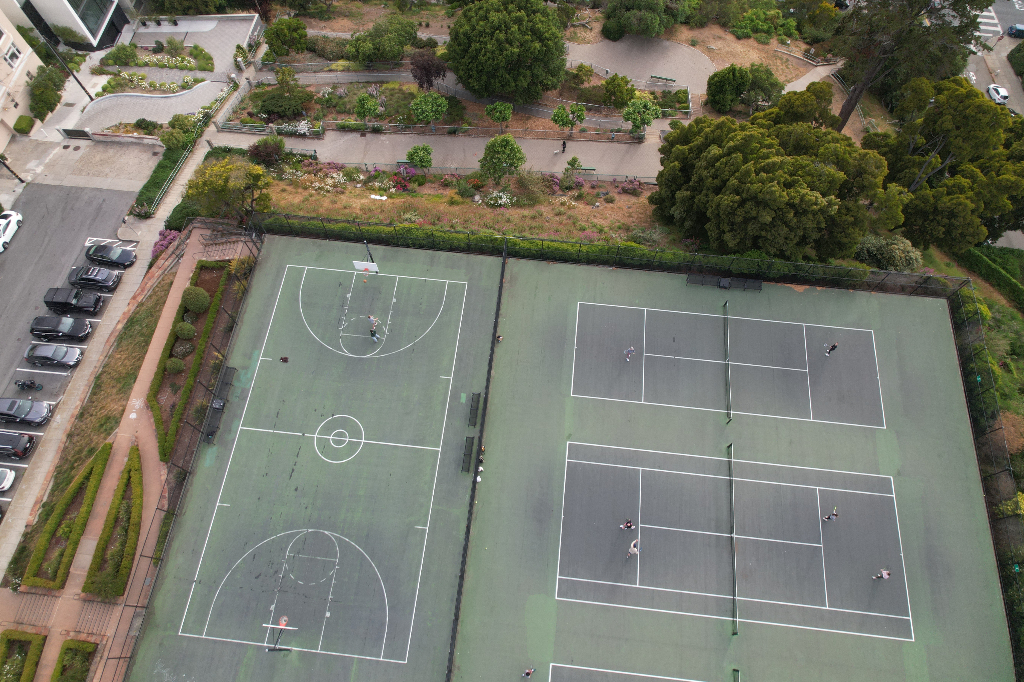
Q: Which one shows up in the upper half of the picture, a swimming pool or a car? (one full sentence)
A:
There is a car in the upper half of the picture.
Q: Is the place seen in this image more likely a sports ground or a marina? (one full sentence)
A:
The picture captures a sports ground.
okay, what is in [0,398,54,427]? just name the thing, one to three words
car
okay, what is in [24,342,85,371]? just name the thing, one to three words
car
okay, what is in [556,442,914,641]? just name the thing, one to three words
tennis court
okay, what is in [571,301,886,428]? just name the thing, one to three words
tennis court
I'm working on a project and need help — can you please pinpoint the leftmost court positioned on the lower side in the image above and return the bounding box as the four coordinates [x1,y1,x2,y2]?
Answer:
[127,234,503,682]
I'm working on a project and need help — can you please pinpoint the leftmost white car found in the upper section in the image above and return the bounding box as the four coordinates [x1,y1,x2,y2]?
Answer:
[0,208,26,254]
